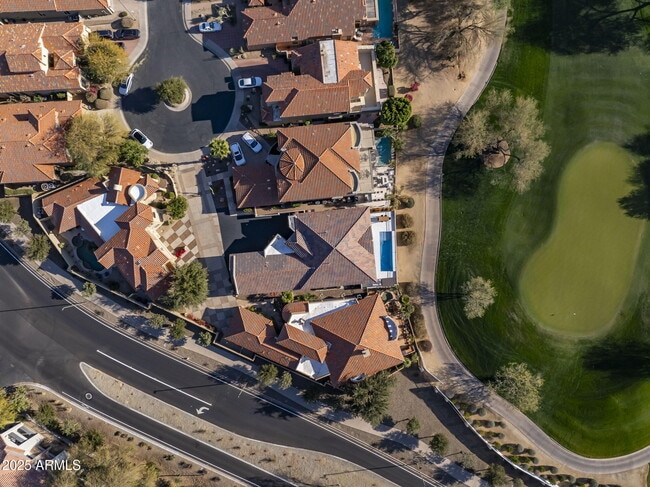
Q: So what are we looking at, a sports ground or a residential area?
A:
residential area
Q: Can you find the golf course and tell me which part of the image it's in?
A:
right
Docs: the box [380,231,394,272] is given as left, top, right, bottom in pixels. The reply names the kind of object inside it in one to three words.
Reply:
swimming pool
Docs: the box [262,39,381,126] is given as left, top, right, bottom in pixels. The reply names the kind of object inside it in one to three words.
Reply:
house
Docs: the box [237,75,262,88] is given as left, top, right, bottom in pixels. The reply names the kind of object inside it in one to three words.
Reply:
vehicle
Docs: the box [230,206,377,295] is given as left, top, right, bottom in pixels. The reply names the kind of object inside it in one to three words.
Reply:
house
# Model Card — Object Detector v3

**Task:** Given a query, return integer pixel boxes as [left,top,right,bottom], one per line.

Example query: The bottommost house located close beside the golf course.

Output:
[223,293,405,384]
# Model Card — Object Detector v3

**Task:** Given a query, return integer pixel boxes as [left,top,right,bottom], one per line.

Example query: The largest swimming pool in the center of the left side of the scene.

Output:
[76,240,107,273]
